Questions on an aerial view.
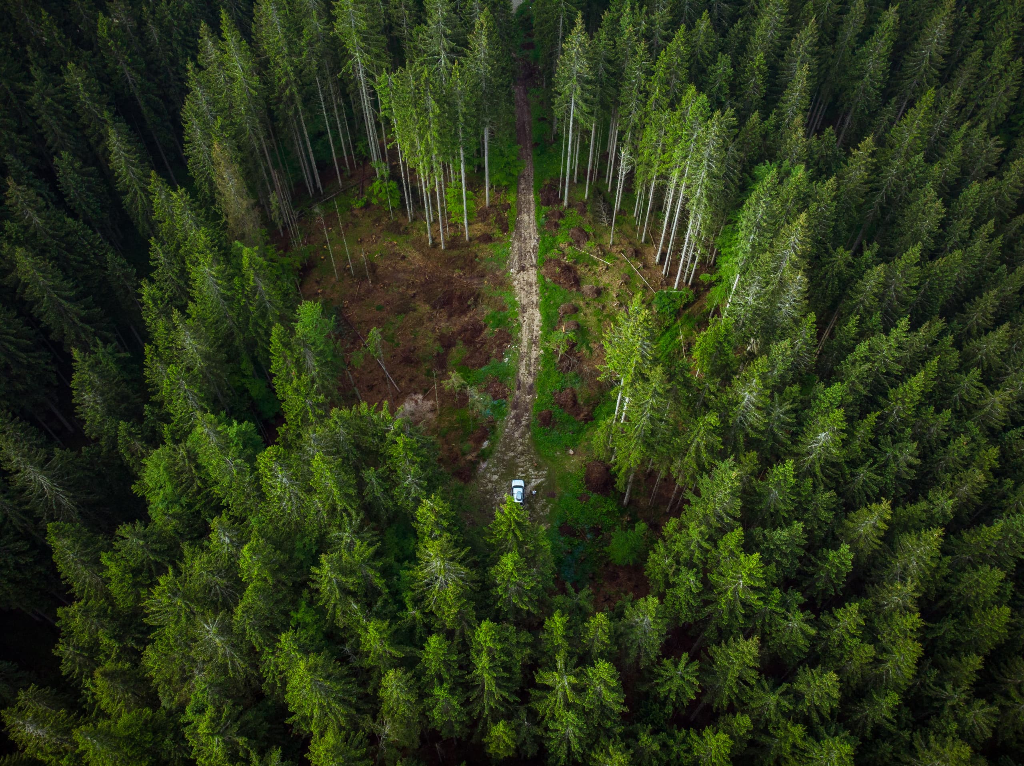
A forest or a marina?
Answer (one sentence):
The picture captures a forest.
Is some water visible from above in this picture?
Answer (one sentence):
No, the picture contains no water.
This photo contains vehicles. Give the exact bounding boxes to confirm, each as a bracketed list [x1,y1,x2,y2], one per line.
[511,479,526,506]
